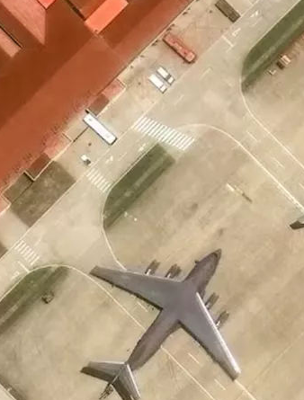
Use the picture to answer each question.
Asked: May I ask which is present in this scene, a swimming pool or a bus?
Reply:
bus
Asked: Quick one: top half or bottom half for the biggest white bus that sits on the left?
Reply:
top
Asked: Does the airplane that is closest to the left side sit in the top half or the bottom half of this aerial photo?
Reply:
bottom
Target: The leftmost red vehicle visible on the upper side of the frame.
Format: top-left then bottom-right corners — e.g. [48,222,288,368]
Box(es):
[162,33,196,65]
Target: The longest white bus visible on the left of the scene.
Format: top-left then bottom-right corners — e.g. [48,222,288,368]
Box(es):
[82,113,117,146]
